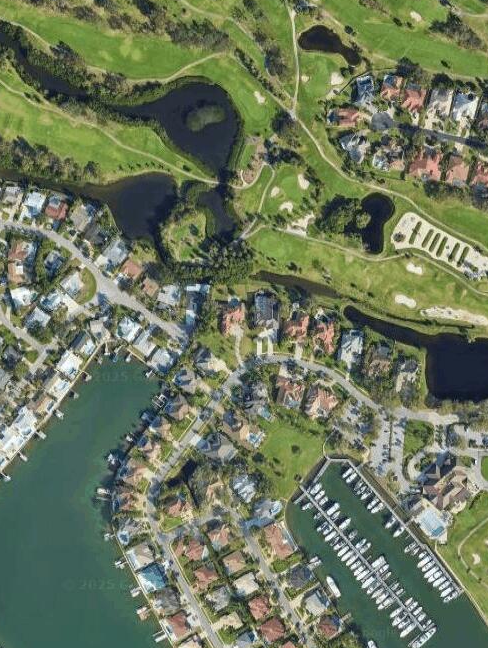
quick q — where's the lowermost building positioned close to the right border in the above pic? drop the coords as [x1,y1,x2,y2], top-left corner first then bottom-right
[404,448,471,512]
